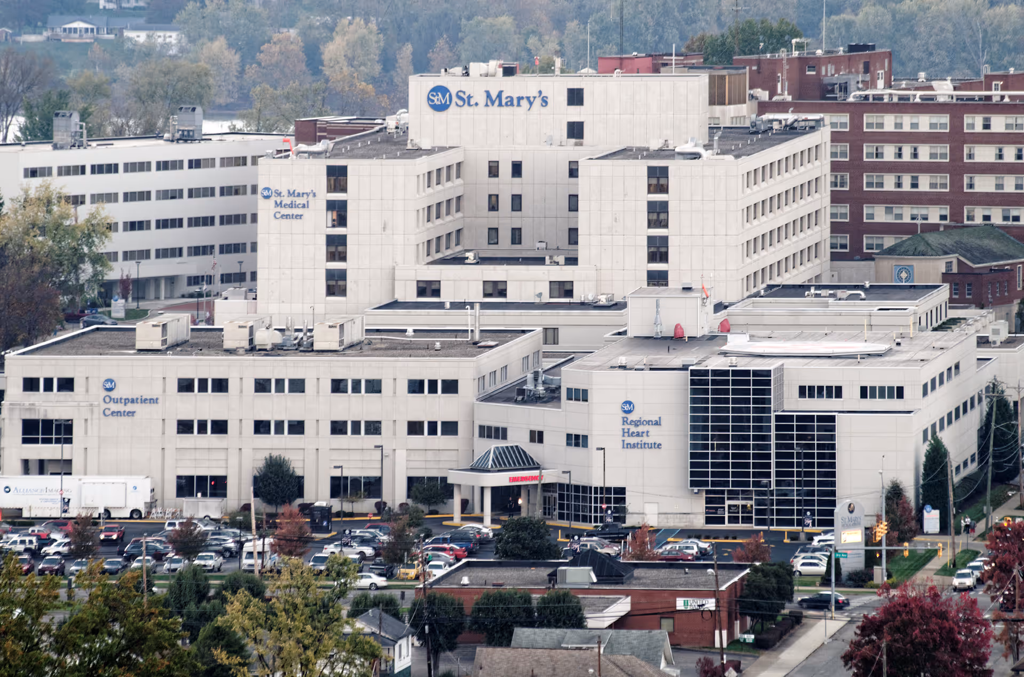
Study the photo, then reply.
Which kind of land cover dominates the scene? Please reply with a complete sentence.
Most of the picture is covered by buildings.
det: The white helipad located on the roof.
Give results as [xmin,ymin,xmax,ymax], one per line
[720,334,891,362]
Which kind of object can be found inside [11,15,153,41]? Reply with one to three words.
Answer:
house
